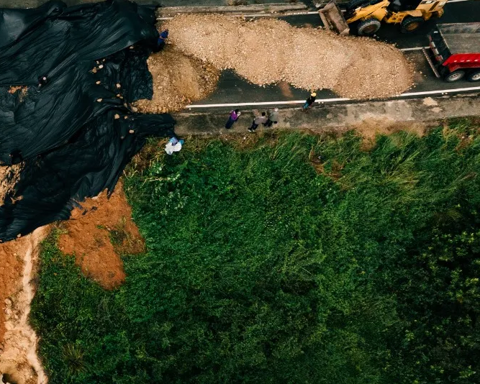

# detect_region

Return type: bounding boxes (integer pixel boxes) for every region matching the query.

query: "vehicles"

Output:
[323,0,442,35]
[414,27,480,80]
